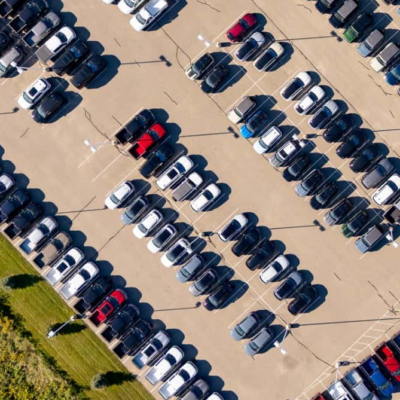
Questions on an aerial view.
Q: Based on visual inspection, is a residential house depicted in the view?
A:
No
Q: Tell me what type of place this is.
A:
parking lot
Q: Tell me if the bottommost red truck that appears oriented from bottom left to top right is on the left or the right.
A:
left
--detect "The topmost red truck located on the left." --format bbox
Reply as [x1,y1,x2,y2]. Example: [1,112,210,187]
[125,121,170,162]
